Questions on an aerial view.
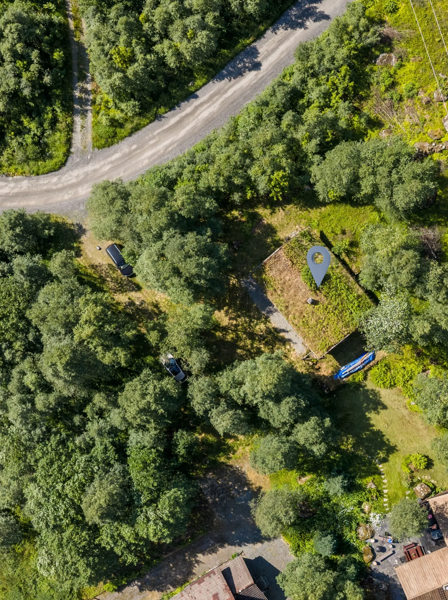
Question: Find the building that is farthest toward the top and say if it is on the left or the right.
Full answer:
The building that is farthest toward the top appears in the right half of the scene.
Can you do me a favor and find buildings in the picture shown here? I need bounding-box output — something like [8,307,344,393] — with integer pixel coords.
[250,226,367,360]
[171,553,268,600]
[395,493,448,600]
